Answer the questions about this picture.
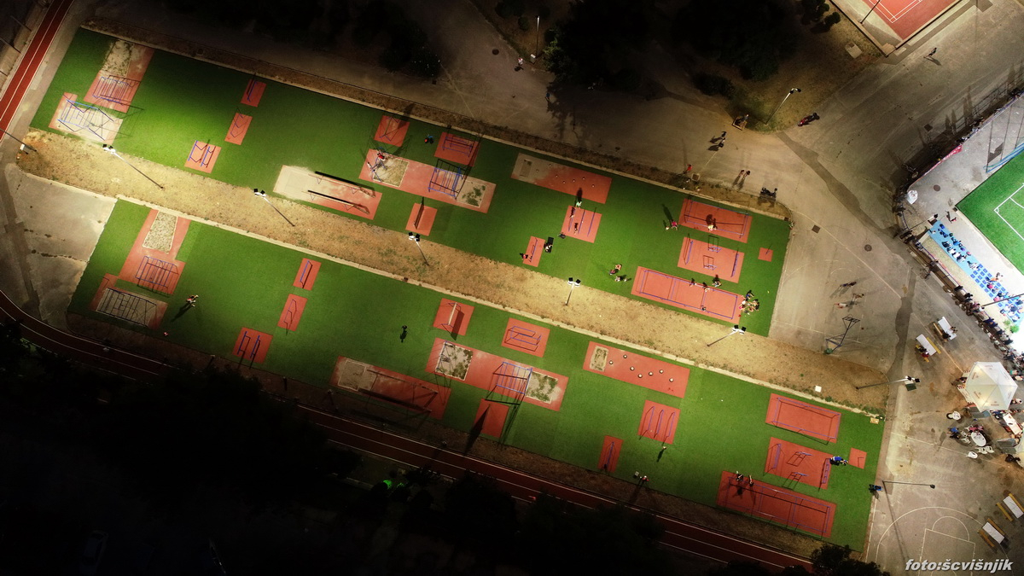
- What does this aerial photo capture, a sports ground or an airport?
sports ground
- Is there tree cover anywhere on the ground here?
Yes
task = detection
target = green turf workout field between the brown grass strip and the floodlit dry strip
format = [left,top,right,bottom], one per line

[29,26,791,336]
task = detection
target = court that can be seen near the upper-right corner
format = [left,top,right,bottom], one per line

[828,0,963,58]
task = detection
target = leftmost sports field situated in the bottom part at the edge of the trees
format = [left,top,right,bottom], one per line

[66,195,886,553]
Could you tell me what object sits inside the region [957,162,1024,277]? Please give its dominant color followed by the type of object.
green soccer field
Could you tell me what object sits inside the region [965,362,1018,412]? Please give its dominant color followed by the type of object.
white umbrella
